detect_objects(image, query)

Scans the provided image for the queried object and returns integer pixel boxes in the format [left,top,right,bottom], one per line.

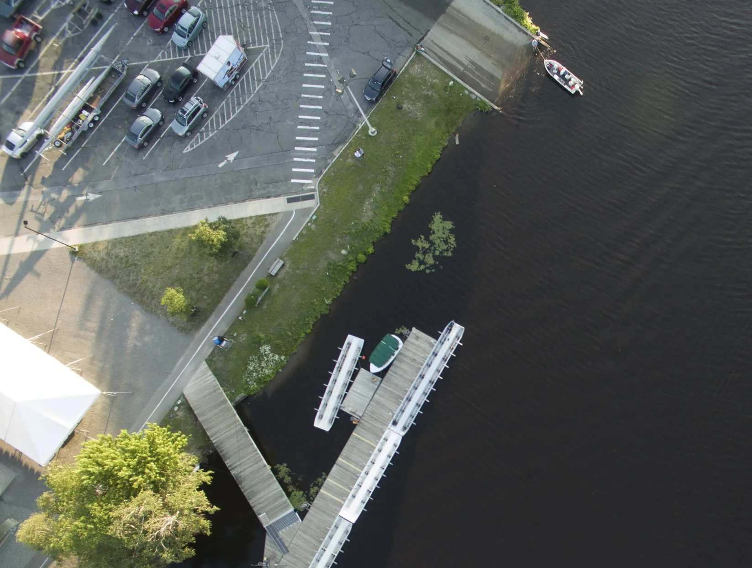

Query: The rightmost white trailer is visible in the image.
[197,32,247,91]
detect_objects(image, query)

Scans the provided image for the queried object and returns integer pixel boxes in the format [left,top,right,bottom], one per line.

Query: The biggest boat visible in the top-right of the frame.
[544,59,583,95]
